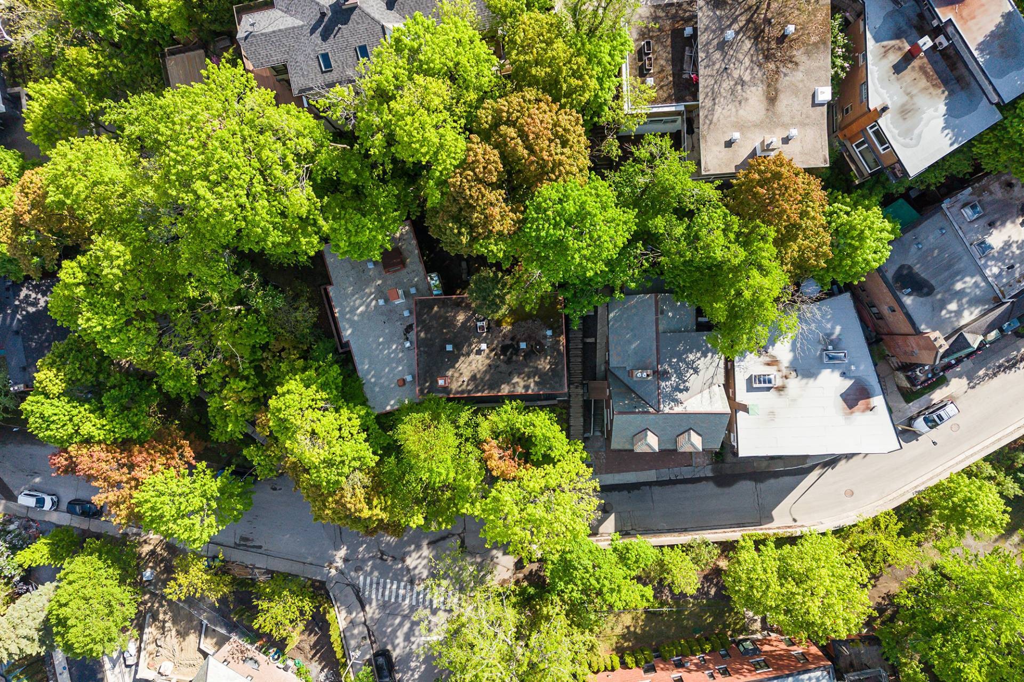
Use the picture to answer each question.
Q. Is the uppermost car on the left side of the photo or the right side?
right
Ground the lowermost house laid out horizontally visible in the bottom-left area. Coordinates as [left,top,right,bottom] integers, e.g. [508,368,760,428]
[194,638,302,682]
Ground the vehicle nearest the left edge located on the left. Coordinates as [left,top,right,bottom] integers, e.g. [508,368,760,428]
[16,486,62,513]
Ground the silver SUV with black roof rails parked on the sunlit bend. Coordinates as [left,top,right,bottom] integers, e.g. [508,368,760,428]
[906,397,961,435]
